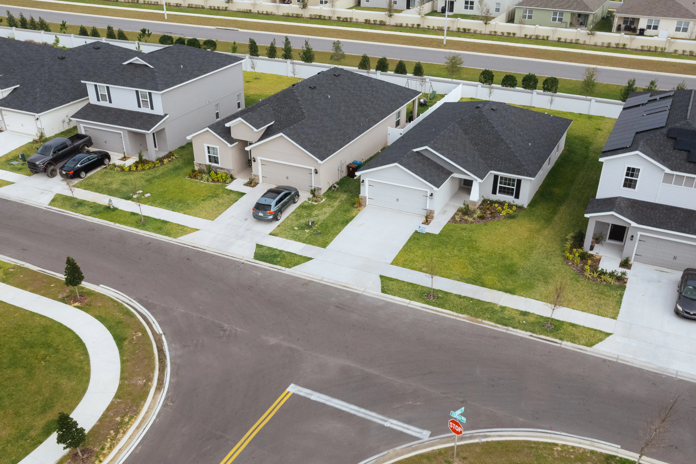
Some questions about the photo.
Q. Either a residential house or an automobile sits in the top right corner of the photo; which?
residential house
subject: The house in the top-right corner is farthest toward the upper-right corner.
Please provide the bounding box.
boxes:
[614,0,696,38]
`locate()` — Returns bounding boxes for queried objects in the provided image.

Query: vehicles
[676,263,696,315]
[57,150,111,179]
[252,186,300,221]
[25,136,91,176]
